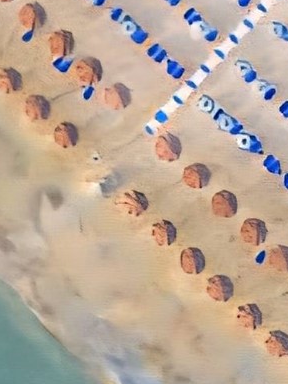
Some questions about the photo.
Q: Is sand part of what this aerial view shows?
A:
Yes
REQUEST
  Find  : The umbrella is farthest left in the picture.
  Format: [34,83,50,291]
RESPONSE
[0,68,18,92]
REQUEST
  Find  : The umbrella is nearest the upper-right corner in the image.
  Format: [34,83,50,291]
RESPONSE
[268,20,286,38]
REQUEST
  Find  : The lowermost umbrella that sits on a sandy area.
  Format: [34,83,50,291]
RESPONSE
[265,332,288,355]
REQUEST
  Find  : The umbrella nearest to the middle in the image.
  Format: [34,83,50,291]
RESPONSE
[117,191,142,216]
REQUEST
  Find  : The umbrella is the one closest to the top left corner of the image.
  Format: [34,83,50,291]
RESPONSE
[20,5,42,27]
